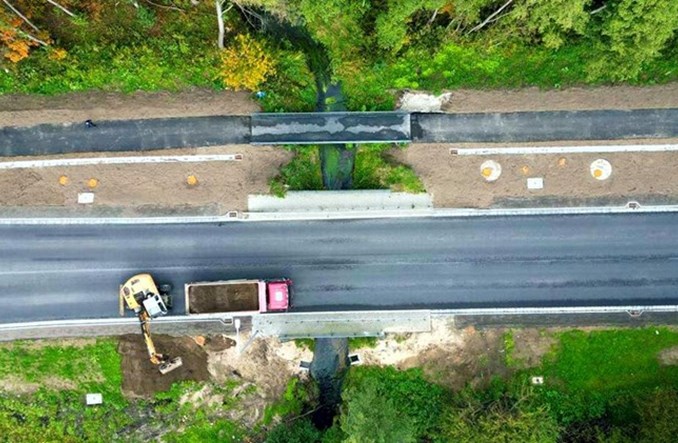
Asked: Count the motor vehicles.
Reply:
2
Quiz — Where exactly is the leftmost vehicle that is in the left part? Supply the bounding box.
[117,272,183,374]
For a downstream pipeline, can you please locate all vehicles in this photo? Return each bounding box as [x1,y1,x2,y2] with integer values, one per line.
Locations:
[181,276,295,317]
[117,272,183,374]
